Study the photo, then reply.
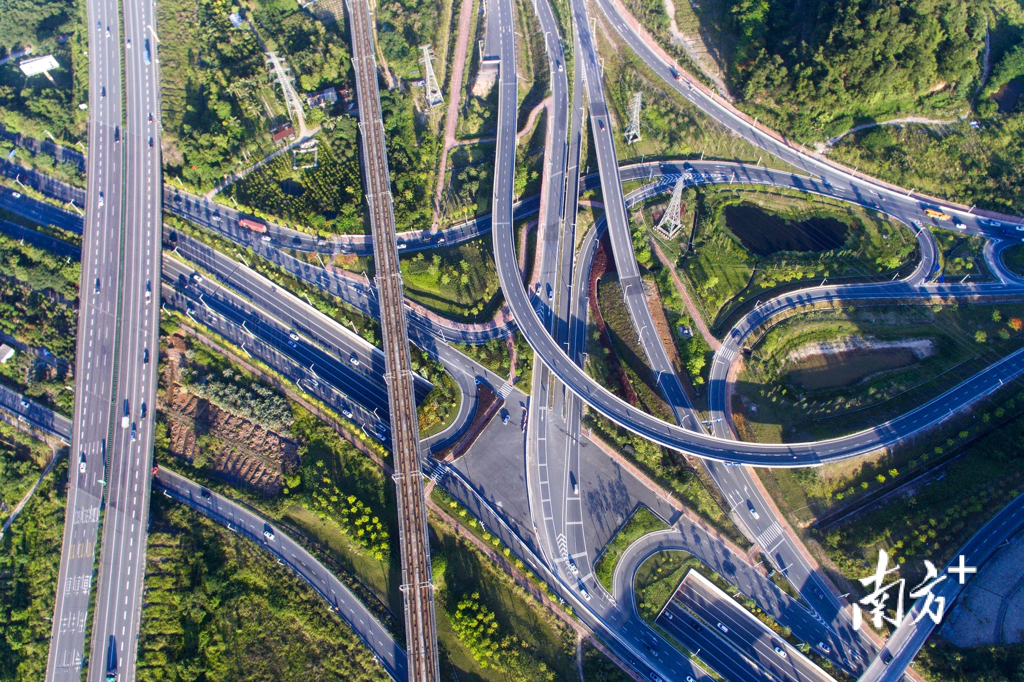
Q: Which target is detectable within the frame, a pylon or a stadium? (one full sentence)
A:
Looking from above, you can make out a pylon.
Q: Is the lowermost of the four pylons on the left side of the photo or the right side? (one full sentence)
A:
The lowermost of the four pylons sits on the right side.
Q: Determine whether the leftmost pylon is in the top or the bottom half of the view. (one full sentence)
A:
You can find the leftmost pylon in the top half.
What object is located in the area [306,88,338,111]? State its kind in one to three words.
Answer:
shed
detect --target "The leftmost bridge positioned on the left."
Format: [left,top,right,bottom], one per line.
[42,0,163,682]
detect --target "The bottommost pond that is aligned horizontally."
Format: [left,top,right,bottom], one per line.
[788,347,918,391]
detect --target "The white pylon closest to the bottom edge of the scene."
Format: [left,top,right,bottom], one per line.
[649,168,689,243]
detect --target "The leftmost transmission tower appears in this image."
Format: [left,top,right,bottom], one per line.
[271,55,306,118]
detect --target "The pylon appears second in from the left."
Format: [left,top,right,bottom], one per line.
[422,48,446,108]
